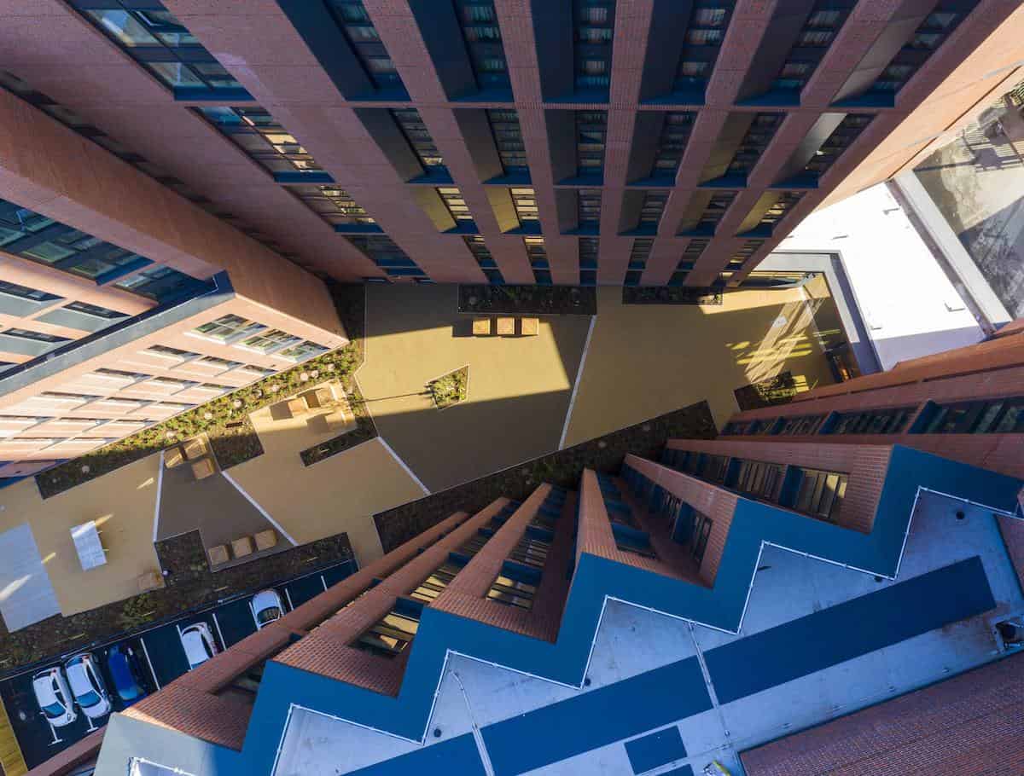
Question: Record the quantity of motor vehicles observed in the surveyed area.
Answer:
5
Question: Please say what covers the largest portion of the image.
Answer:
buildings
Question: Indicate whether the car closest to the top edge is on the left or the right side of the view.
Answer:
left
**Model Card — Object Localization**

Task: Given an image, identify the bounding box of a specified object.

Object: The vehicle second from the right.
[172,617,214,670]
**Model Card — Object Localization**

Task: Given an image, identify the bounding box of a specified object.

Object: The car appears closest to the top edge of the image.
[250,588,284,628]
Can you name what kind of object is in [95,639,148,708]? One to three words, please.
car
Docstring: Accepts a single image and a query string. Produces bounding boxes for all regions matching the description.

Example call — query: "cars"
[172,617,214,670]
[24,667,75,730]
[58,652,111,722]
[95,639,148,708]
[250,588,284,628]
